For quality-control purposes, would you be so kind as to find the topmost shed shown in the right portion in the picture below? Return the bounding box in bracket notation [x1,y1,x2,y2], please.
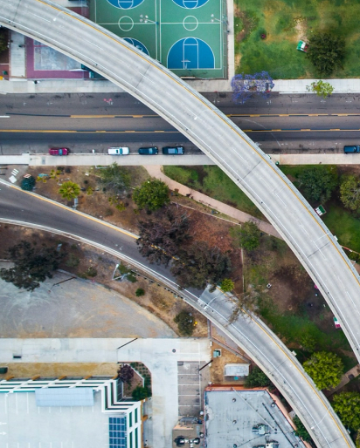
[224,363,253,376]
